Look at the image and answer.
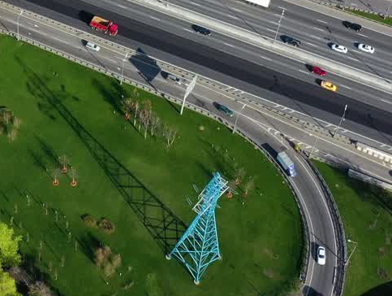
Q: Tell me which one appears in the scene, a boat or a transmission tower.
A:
transmission tower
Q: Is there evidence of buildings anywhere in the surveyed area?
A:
No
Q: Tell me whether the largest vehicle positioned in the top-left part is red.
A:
Yes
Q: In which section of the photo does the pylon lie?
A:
bottom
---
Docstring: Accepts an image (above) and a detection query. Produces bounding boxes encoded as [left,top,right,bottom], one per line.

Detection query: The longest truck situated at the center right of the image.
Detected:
[275,149,298,180]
